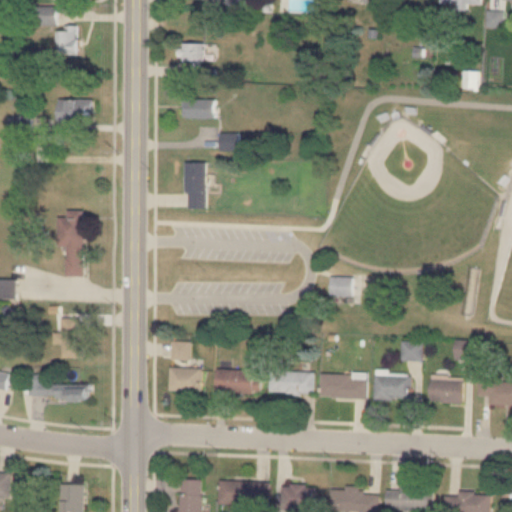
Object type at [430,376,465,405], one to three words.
house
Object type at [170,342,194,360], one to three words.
building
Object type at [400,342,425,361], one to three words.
building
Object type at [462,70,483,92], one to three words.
barn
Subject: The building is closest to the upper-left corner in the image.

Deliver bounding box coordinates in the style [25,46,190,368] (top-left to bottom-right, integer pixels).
[34,6,57,26]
